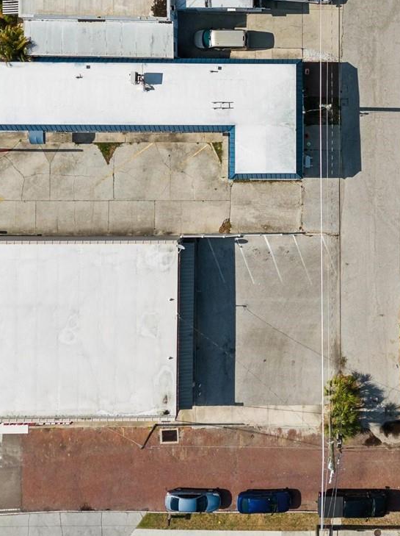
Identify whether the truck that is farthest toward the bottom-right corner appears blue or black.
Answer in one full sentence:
The truck that is farthest toward the bottom-right corner is black.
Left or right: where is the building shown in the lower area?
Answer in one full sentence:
It is on the left.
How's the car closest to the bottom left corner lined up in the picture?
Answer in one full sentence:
From this overhead view, the car closest to the bottom left corner appears to run from left to right.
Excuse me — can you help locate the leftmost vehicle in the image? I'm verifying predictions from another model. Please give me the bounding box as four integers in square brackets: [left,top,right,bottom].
[164,489,220,518]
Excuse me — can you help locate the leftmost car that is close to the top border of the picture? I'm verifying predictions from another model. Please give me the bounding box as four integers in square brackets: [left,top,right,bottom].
[194,25,249,51]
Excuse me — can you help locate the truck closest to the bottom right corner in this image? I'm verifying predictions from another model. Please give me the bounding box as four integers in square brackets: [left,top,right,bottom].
[321,489,390,521]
